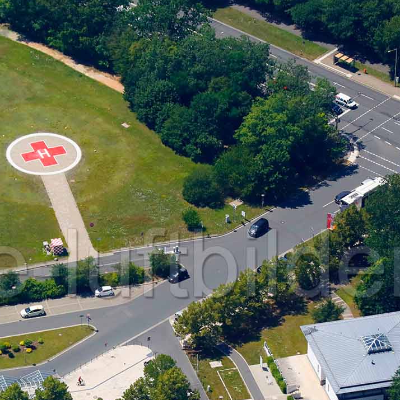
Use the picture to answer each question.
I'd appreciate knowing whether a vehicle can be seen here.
Yes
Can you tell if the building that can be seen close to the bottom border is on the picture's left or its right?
right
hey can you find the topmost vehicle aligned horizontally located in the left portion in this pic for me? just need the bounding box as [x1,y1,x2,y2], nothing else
[92,283,115,297]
